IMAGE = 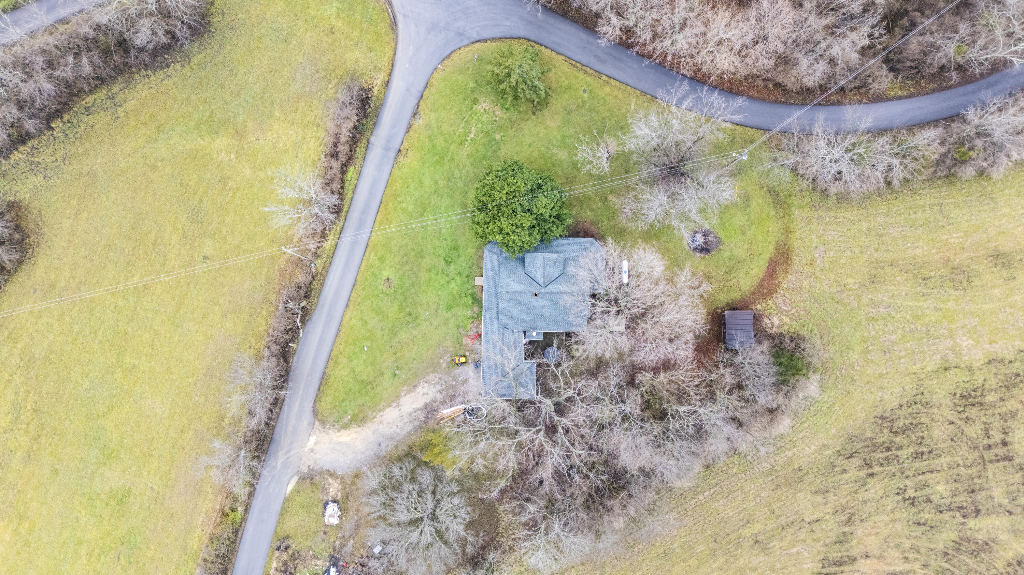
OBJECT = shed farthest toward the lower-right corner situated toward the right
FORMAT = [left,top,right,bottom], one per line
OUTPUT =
[720,311,754,349]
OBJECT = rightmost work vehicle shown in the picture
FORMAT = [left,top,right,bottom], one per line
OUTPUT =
[452,355,466,367]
